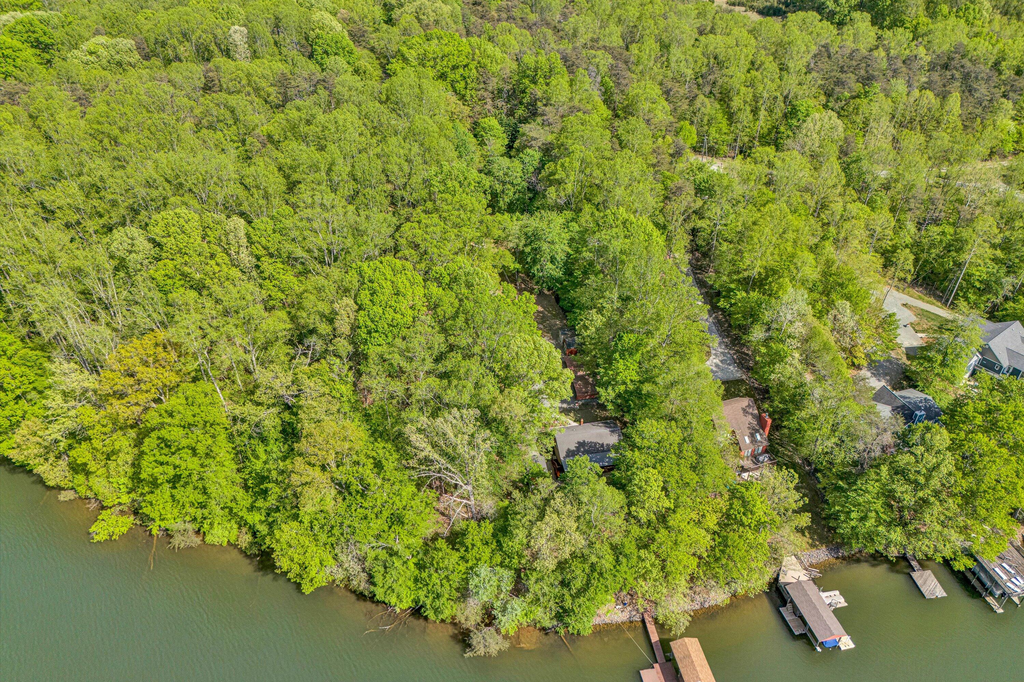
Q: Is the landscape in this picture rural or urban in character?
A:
rural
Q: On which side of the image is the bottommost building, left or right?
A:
right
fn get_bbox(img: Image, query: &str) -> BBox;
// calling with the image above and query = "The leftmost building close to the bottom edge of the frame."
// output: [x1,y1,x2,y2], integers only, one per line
[669,636,715,682]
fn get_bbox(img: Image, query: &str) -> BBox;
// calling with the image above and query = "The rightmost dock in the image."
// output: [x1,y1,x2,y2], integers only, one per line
[958,532,1024,622]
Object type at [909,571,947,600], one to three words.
pier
